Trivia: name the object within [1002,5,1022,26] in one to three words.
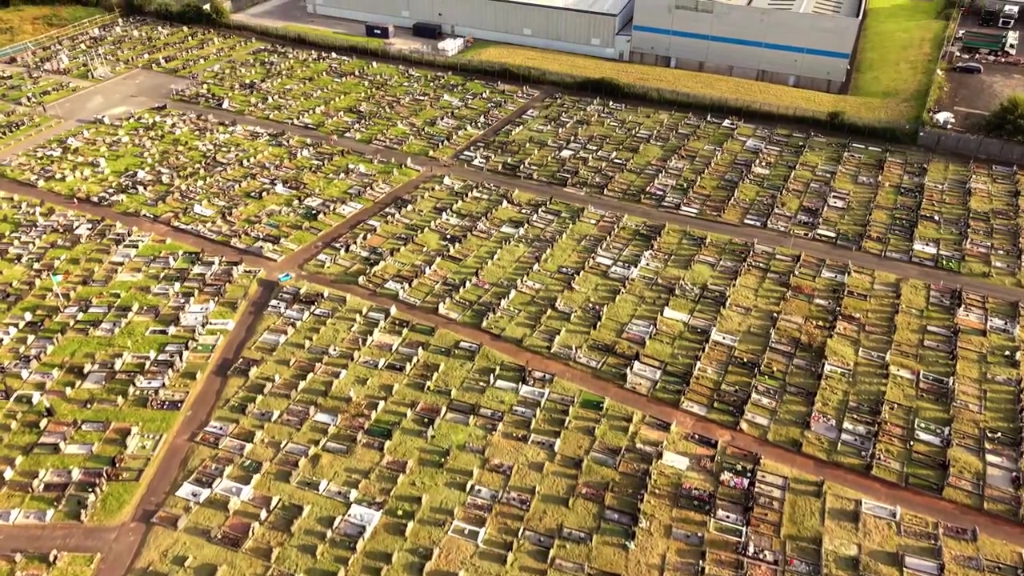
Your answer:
vehicle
